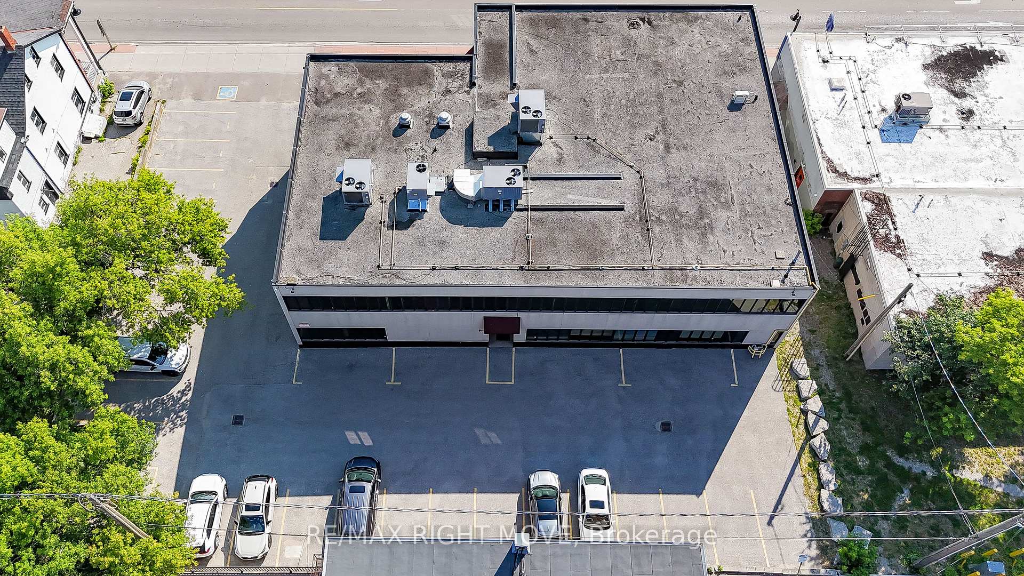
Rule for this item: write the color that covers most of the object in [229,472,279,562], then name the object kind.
white car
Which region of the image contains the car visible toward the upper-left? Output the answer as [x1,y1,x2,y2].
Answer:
[108,78,152,133]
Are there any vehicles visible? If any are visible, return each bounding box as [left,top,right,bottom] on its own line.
[229,472,279,562]
[338,455,382,538]
[105,336,193,370]
[108,78,152,133]
[181,473,227,559]
[525,468,566,537]
[576,468,618,537]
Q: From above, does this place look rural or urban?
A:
urban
